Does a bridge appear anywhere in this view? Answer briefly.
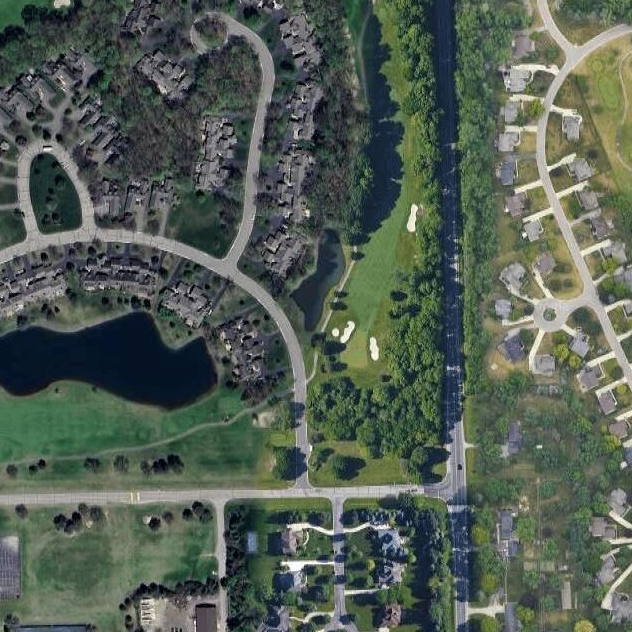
No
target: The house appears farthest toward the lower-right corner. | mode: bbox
[608,598,632,620]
